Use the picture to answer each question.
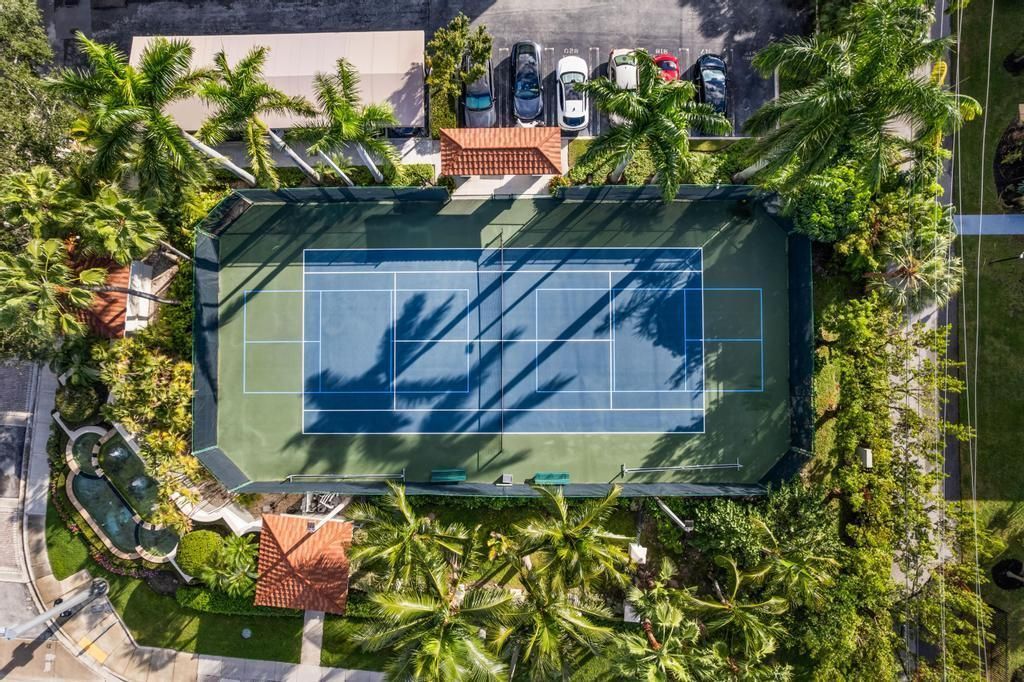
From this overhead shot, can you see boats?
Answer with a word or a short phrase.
No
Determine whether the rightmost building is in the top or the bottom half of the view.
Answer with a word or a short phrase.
top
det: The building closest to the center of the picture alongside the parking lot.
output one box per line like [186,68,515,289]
[439,126,563,184]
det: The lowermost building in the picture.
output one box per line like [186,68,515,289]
[252,505,362,615]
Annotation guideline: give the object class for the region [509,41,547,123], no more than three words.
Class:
car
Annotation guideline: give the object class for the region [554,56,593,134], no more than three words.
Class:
car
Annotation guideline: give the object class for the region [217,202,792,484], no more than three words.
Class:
tennis court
